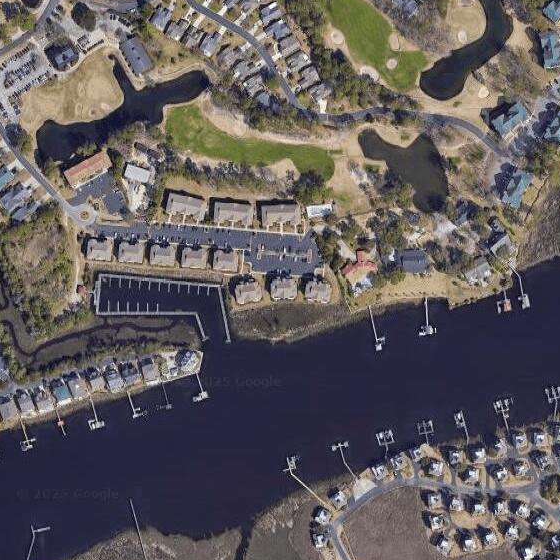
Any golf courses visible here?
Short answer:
Yes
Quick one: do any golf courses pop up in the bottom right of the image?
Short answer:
No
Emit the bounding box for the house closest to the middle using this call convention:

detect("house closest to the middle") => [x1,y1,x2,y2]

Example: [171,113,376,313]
[271,279,297,299]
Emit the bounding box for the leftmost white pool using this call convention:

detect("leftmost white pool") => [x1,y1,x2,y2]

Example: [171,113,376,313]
[307,203,333,217]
